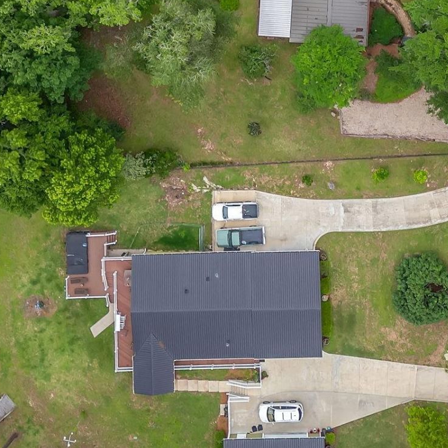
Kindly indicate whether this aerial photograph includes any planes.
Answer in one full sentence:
No, I can't see a single plane in this photo.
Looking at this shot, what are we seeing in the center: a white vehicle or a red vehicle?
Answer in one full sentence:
Visible in the center is a white vehicle.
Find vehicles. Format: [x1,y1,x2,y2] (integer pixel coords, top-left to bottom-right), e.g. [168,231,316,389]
[259,400,301,423]
[217,227,266,248]
[211,201,258,222]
